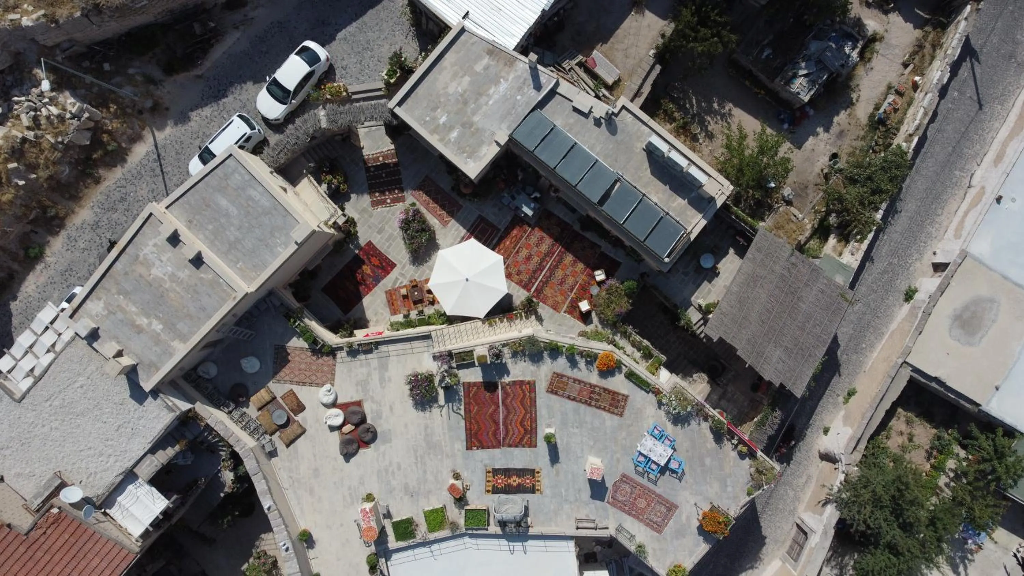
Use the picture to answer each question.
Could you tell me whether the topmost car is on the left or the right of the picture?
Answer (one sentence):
The topmost car sits on the left side.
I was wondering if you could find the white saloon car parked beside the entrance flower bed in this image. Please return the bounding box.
[256,37,331,129]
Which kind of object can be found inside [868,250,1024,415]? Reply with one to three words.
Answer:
house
